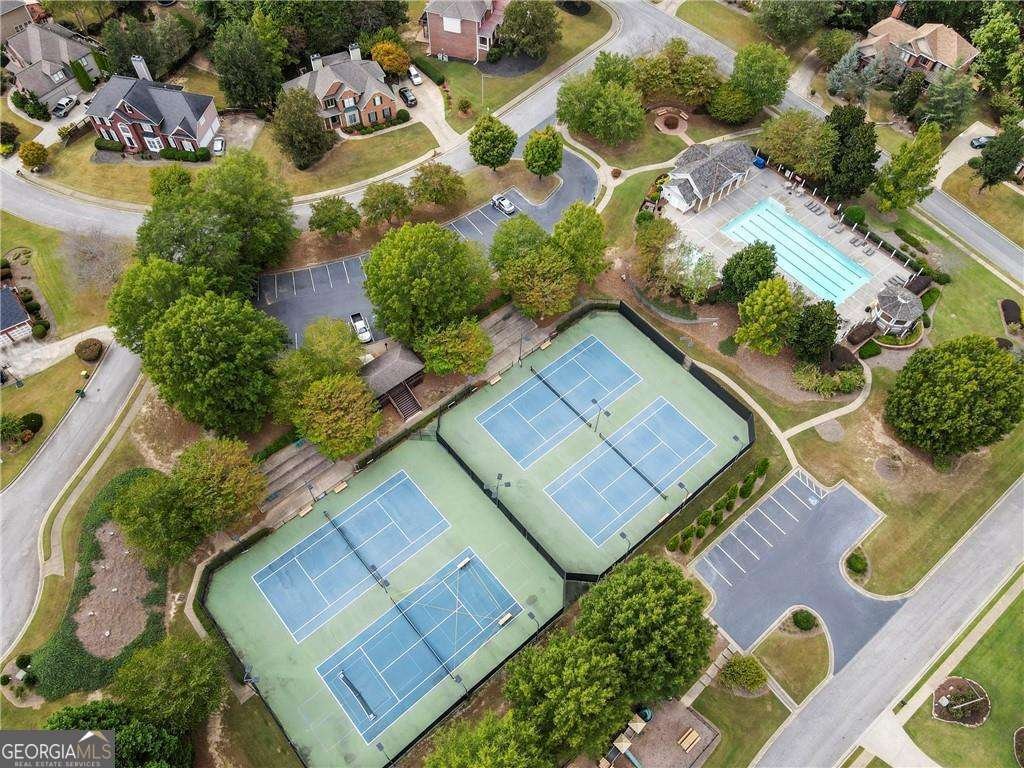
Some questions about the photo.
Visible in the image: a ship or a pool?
pool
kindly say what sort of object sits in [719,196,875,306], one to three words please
swimming pool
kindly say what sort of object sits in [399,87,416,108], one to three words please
car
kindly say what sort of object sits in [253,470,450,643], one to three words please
tennis court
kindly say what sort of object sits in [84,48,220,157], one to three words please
house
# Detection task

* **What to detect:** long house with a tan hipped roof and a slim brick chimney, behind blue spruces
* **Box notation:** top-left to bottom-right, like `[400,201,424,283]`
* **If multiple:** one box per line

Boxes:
[852,0,975,85]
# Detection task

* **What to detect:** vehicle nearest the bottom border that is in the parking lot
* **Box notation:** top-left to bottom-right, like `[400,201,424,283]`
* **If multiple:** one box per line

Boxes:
[346,312,372,345]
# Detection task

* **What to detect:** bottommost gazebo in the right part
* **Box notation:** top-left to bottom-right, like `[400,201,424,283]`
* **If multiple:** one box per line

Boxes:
[872,285,925,332]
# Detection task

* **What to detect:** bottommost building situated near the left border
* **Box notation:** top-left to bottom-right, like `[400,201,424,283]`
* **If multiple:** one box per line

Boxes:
[0,279,34,345]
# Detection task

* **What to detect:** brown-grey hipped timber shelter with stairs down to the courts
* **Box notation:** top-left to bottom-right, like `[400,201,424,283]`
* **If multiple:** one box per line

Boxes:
[348,341,425,426]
